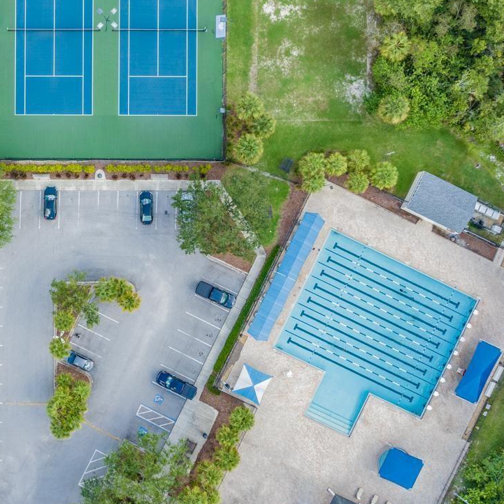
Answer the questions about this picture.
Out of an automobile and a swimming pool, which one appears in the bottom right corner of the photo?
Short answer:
swimming pool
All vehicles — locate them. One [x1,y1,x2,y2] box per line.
[195,280,238,309]
[43,185,58,219]
[139,191,155,225]
[64,350,96,373]
[156,372,199,401]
